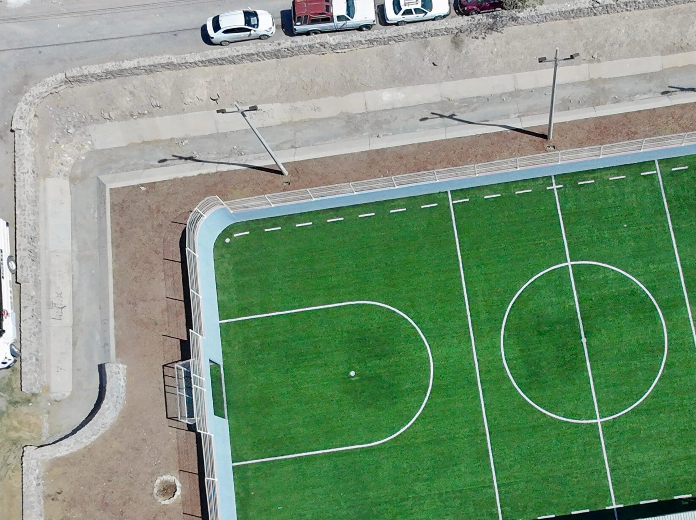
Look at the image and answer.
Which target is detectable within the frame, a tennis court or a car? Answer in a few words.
car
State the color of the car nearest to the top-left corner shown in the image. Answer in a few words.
white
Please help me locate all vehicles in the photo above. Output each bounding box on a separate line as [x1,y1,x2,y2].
[461,0,529,15]
[384,0,452,23]
[293,0,384,36]
[205,4,276,47]
[0,217,19,376]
